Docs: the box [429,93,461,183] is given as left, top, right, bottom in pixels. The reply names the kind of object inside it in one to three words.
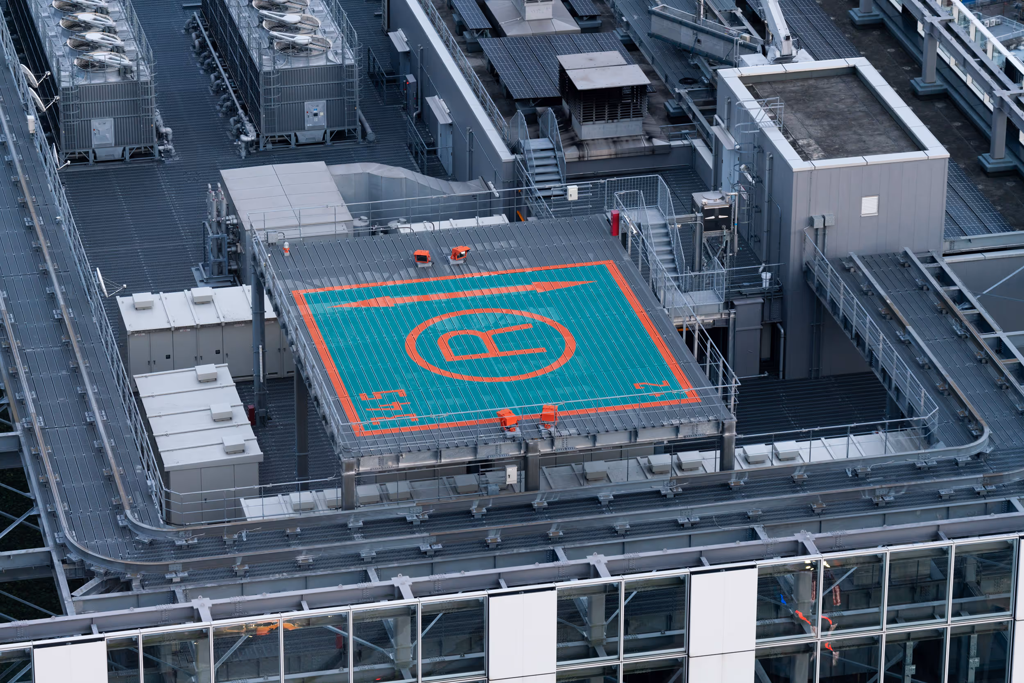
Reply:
shed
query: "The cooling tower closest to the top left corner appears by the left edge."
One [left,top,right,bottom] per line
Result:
[4,0,165,170]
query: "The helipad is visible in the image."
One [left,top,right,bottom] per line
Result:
[252,212,737,617]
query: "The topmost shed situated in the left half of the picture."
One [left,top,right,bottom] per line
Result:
[390,27,418,108]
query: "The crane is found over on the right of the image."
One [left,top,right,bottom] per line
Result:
[737,0,809,68]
